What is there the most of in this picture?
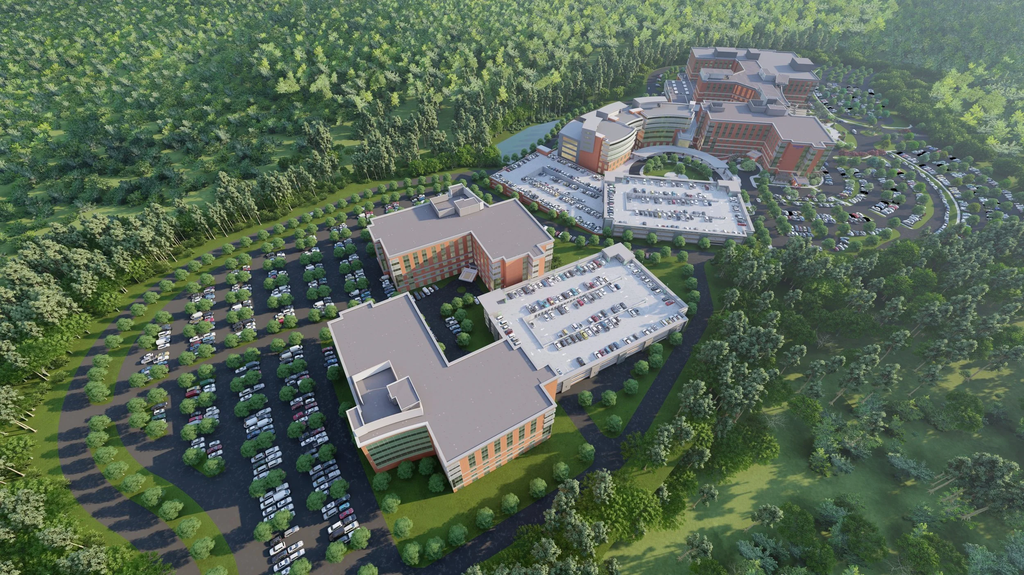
trees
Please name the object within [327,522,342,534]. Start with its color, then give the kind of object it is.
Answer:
white vehicle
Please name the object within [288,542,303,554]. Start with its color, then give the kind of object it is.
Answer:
white vehicle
